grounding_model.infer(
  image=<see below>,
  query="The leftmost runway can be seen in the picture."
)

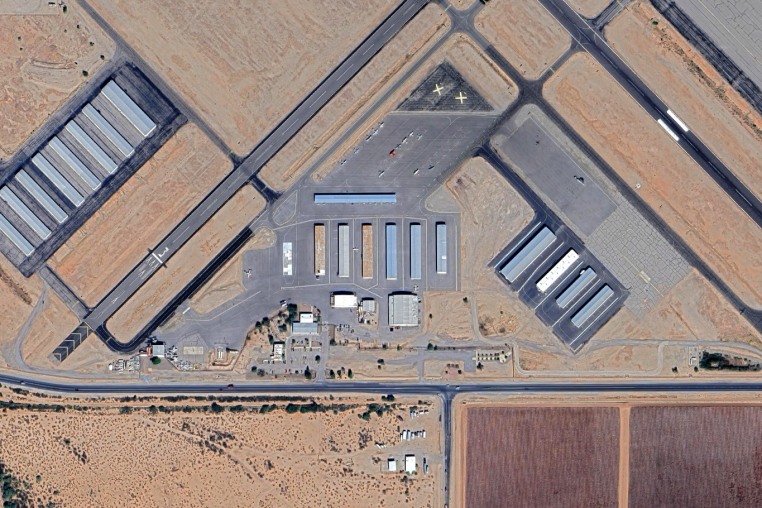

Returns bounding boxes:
[82,0,426,332]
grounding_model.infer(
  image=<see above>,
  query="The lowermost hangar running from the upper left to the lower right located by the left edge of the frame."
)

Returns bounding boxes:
[0,215,35,257]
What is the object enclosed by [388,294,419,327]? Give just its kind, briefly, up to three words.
hangar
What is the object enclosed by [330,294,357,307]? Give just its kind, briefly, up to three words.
hangar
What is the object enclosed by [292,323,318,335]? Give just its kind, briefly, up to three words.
building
